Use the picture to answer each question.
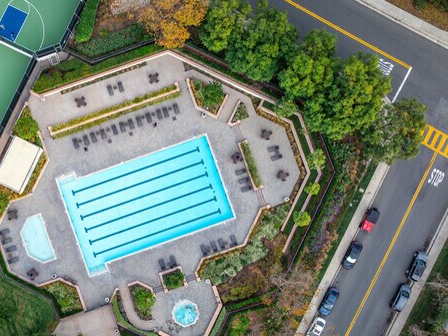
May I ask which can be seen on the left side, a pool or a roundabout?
pool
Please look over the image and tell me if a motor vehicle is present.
Yes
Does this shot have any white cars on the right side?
Yes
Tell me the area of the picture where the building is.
left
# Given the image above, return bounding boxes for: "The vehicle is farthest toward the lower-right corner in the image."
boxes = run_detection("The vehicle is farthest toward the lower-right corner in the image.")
[388,282,411,312]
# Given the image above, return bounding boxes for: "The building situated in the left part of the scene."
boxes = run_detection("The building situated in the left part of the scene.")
[0,137,46,194]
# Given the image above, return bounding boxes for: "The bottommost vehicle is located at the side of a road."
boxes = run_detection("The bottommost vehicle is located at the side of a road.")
[305,315,327,336]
